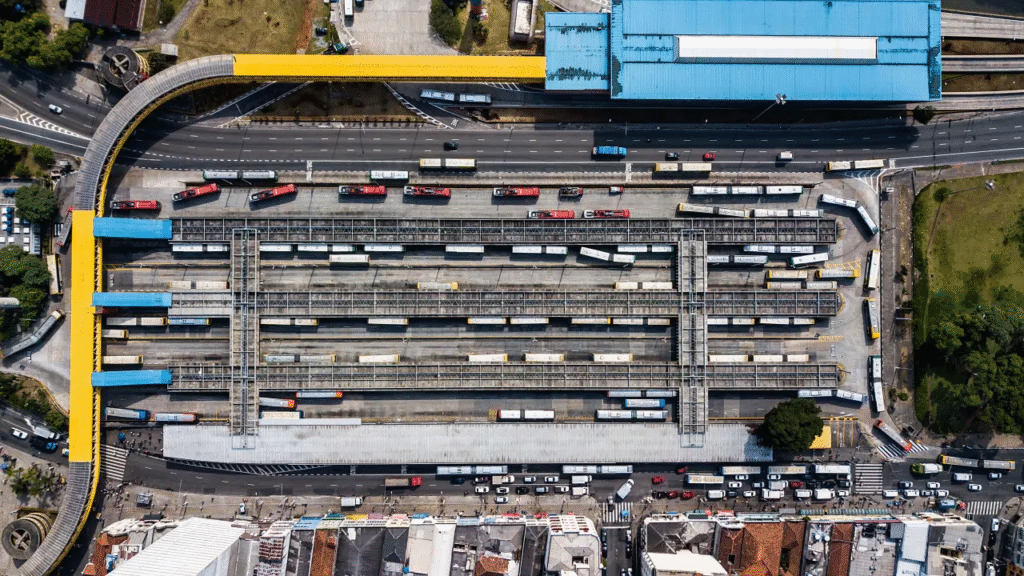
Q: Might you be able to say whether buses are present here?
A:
Yes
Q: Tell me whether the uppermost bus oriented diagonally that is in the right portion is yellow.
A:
No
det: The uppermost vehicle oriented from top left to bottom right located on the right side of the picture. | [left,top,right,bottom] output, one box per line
[816,193,879,235]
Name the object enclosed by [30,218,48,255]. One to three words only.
shed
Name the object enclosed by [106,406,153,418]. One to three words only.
vehicle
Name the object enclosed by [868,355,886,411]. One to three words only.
vehicle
